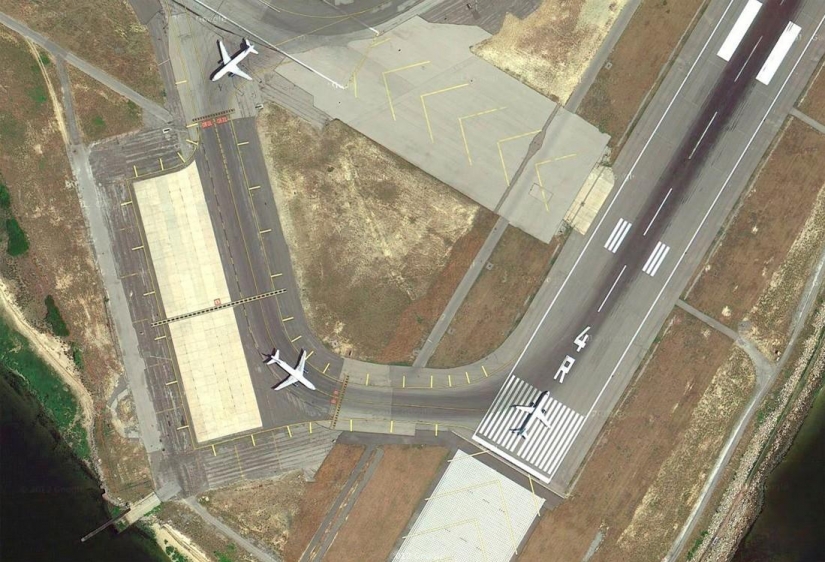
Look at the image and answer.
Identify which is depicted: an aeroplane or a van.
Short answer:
aeroplane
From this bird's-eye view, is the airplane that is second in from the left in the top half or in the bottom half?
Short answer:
bottom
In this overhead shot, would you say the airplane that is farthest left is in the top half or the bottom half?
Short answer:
top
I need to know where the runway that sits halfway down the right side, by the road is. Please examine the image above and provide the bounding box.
[452,0,825,497]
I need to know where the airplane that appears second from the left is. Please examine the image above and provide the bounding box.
[265,349,316,391]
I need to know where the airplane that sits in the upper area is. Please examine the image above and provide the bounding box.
[212,39,260,81]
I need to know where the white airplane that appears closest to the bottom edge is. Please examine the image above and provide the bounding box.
[516,391,553,436]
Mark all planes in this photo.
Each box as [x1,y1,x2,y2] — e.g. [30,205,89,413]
[212,39,260,81]
[265,349,316,391]
[516,391,553,436]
